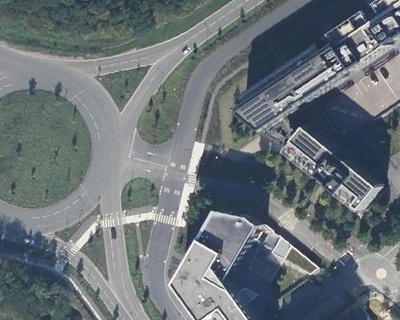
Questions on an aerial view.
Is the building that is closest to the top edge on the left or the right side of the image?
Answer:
right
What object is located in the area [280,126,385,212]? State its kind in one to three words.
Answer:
building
